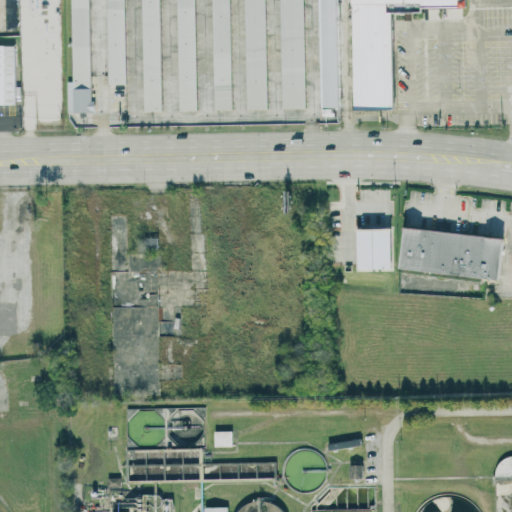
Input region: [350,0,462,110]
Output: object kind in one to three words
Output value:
building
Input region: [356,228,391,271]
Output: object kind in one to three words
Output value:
building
